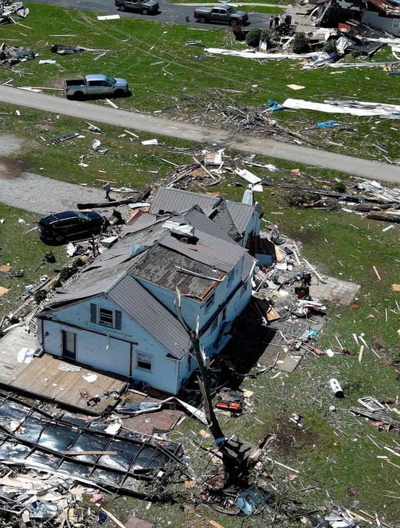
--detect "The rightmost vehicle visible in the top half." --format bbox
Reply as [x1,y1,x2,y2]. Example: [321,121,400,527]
[191,1,247,25]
